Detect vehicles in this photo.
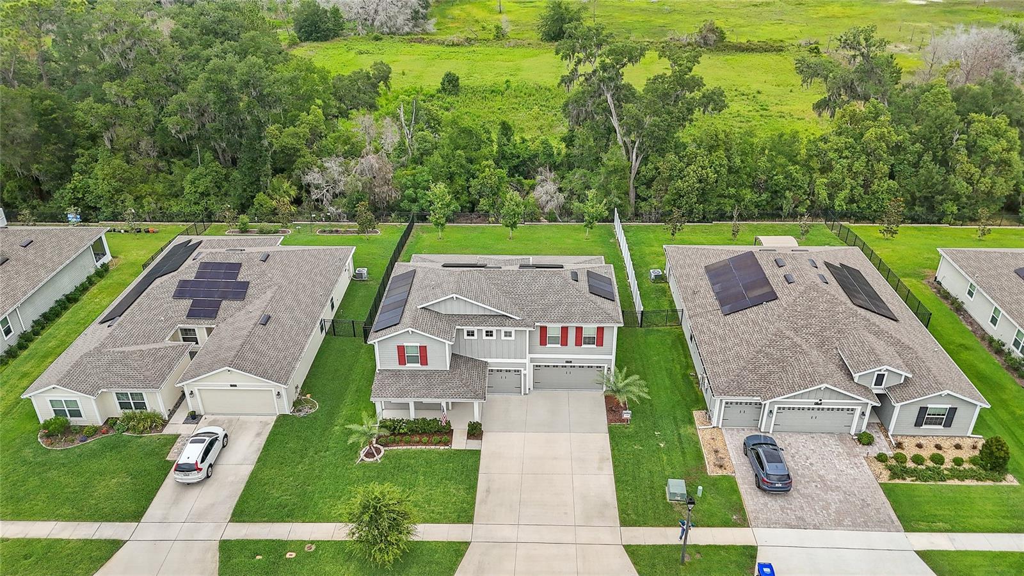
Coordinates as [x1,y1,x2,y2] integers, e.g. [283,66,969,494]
[170,427,227,485]
[744,436,795,495]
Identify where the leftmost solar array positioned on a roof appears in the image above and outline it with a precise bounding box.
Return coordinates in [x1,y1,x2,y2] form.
[172,262,248,317]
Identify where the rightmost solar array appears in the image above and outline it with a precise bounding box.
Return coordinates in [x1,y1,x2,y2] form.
[704,250,777,313]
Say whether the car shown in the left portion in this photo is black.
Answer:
No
